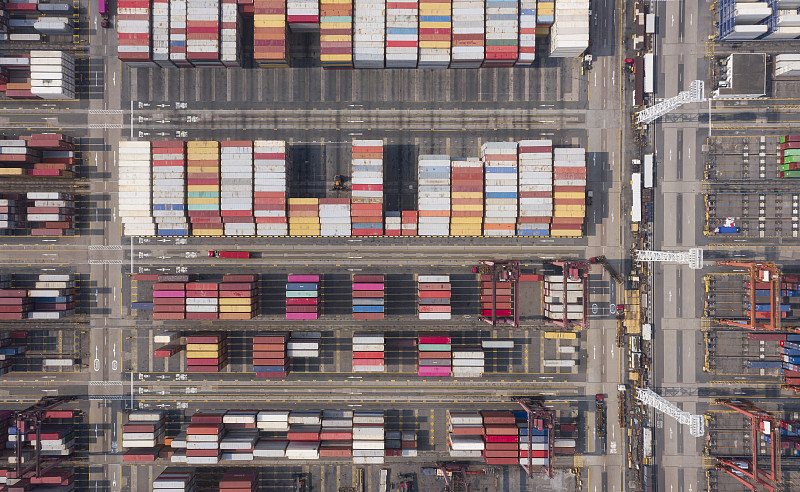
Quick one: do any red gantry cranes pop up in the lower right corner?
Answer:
Yes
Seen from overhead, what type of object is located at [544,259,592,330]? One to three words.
container crane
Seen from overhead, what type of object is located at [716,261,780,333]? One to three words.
container crane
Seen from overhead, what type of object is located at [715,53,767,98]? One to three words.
building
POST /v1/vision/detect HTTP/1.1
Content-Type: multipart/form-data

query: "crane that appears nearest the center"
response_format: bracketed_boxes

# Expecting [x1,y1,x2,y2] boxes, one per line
[479,259,523,330]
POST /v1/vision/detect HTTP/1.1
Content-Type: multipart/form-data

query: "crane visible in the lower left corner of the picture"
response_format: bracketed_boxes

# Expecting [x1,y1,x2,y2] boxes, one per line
[16,398,77,487]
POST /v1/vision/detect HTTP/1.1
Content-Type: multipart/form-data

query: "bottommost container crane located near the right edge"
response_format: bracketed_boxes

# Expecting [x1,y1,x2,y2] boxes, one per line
[718,467,781,492]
